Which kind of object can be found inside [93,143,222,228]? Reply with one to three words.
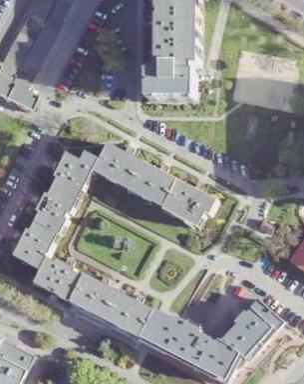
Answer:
building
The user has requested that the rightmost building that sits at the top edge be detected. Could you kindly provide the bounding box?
[141,0,208,101]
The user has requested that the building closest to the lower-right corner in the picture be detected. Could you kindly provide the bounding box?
[223,300,288,356]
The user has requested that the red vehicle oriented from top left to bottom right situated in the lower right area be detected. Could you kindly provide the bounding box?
[231,284,246,299]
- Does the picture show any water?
No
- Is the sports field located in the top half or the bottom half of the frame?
top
